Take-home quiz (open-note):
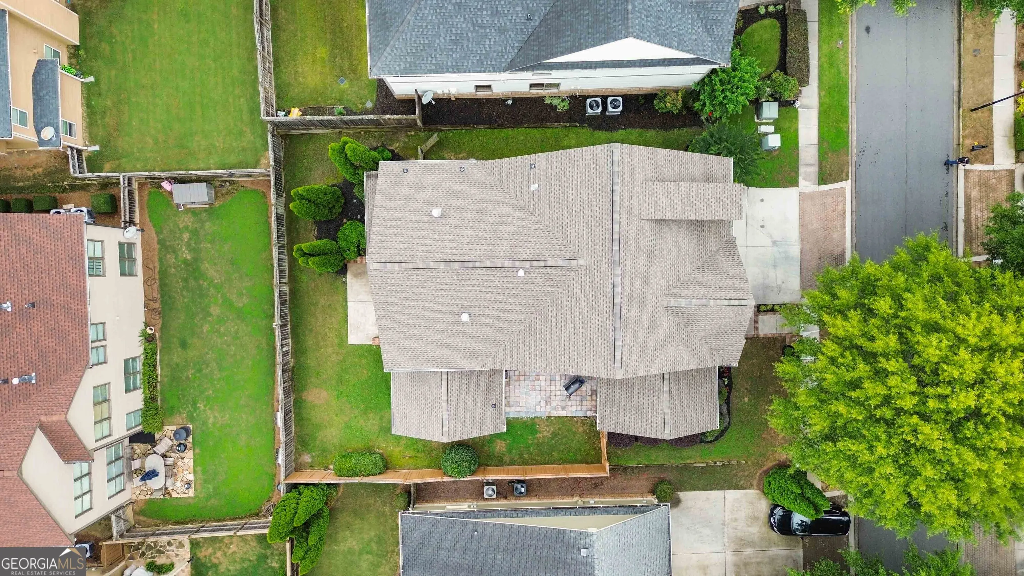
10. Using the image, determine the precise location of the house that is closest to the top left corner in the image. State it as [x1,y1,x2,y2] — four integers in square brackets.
[0,0,99,151]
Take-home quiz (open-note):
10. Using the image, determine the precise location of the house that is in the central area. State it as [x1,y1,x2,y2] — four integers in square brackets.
[345,141,757,443]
